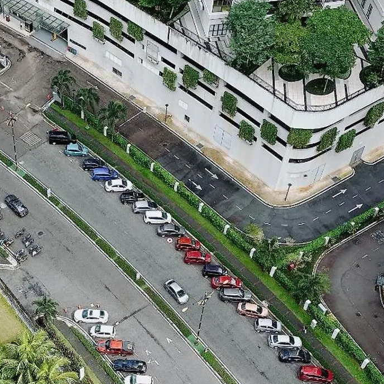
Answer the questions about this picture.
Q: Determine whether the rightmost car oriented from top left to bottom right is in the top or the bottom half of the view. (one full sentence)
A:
Seen from above, the rightmost car oriented from top left to bottom right lies in the bottom half of the view.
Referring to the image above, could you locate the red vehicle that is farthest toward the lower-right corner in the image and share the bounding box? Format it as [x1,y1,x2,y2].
[298,366,333,384]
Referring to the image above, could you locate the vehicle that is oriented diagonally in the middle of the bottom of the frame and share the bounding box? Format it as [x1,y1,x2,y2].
[162,279,191,304]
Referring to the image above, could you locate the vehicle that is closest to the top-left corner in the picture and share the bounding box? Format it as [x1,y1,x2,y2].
[48,133,76,145]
